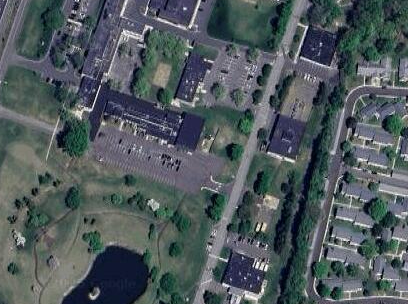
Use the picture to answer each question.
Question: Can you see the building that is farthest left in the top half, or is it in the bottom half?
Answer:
top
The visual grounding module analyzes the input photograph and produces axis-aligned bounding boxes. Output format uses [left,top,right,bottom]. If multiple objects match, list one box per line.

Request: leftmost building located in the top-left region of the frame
[79,0,130,110]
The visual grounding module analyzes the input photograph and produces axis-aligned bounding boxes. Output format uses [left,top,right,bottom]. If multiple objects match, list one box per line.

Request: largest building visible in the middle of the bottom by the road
[222,249,266,294]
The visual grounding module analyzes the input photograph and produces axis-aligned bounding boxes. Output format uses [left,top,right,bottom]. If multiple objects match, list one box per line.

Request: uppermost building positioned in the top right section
[301,26,337,66]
